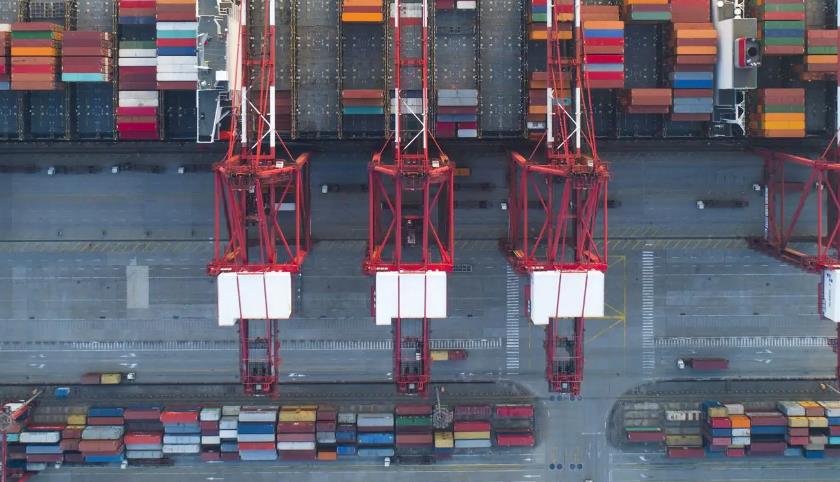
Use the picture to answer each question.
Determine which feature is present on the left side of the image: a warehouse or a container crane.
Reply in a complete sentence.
What appears on the left side of the image is a container crane.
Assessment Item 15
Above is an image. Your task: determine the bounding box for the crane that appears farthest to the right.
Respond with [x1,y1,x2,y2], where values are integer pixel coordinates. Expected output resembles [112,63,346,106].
[743,0,840,390]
